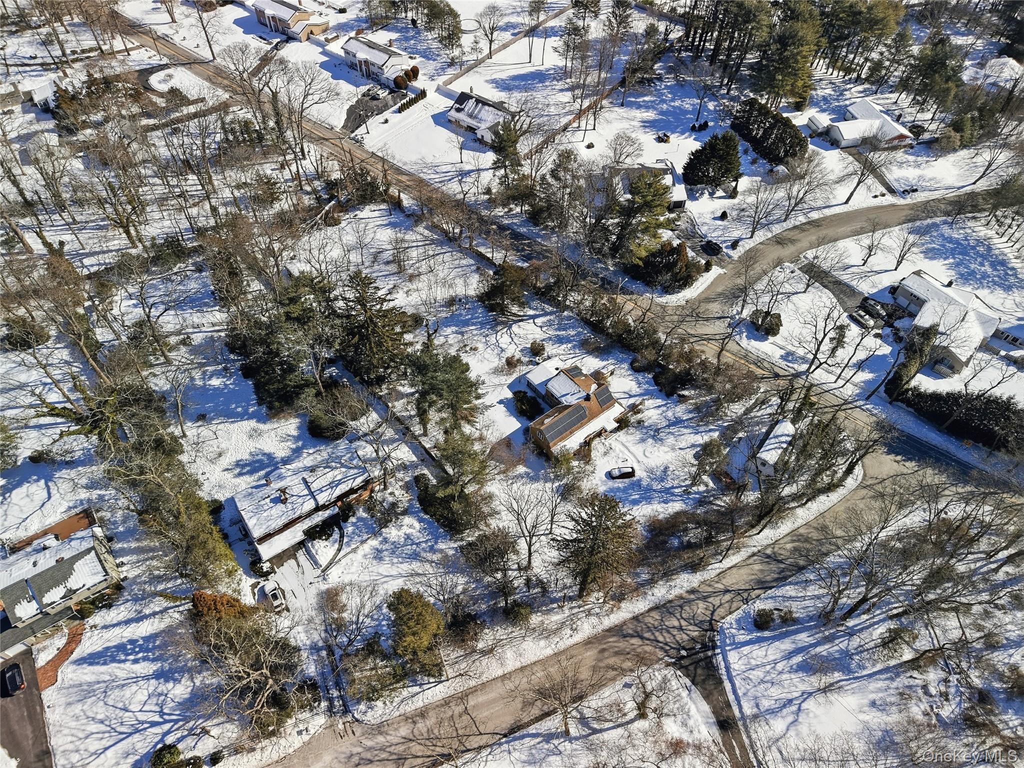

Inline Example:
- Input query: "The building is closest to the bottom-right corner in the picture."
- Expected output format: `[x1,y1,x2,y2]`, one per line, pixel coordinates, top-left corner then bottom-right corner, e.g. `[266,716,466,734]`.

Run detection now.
[743,419,794,477]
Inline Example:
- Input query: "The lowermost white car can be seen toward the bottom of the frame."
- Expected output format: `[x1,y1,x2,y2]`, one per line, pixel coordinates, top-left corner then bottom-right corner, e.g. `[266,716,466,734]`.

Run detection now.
[264,581,285,612]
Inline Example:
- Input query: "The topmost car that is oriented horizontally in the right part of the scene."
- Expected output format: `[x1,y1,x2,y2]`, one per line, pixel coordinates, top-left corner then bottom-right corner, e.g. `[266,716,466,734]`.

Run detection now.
[701,240,723,252]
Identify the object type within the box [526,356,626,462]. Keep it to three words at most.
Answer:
house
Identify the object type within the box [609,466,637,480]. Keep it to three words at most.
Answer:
car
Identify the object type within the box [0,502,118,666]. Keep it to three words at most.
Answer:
house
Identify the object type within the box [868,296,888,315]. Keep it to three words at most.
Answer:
car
